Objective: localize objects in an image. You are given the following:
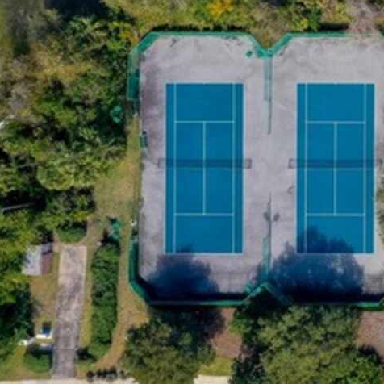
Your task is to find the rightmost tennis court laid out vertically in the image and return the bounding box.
[272,36,384,299]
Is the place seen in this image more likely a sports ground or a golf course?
sports ground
